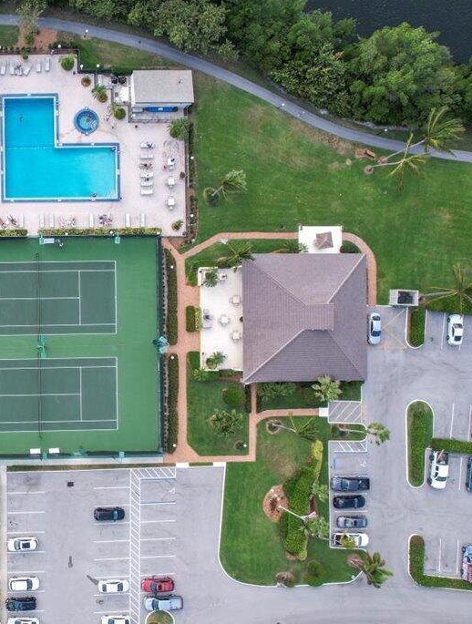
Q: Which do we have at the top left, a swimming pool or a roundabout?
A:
swimming pool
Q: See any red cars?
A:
Yes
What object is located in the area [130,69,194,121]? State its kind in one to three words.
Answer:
building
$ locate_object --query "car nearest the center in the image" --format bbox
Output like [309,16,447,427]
[366,312,383,344]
